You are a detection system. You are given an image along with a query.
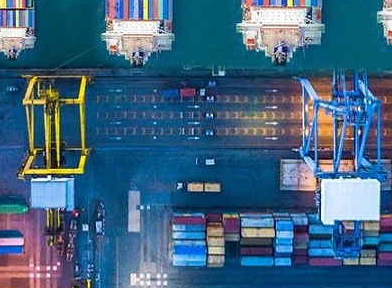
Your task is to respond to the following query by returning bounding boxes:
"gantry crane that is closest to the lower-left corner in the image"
[16,75,96,252]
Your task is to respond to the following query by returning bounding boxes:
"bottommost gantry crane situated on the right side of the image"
[290,64,379,266]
